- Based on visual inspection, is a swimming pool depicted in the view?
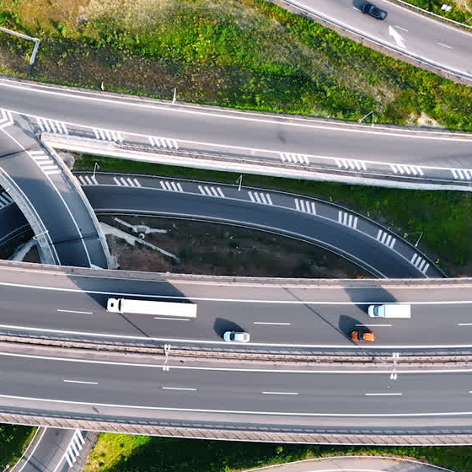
No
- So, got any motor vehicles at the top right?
Yes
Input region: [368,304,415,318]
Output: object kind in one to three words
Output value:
vehicle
